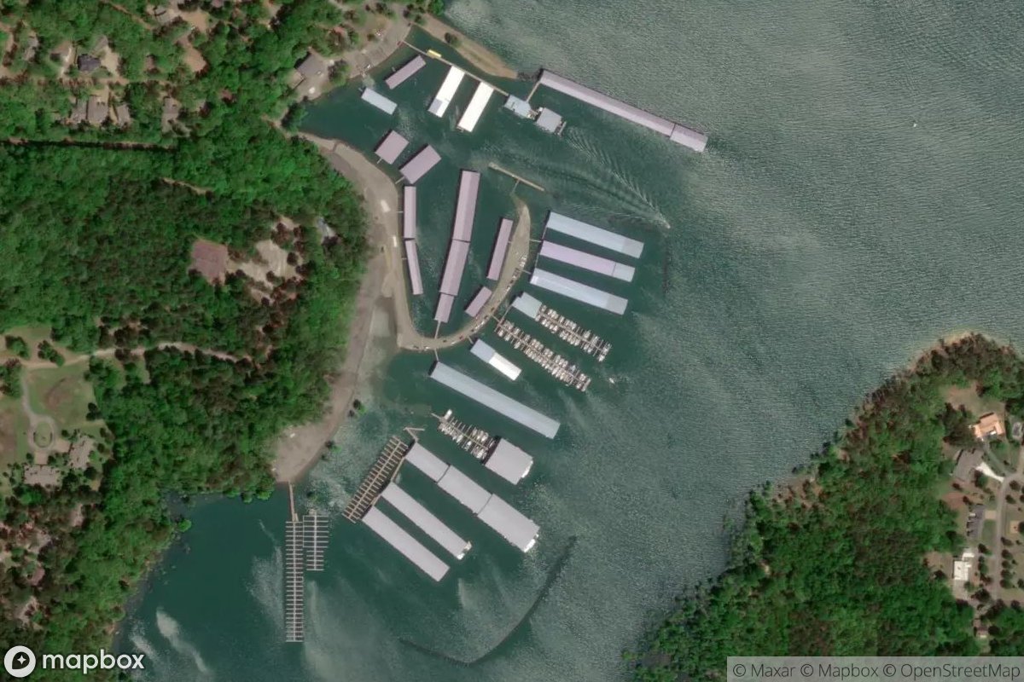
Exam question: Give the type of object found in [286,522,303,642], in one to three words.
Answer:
pier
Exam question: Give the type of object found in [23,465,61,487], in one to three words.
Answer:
house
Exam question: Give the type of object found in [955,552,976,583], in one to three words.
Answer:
building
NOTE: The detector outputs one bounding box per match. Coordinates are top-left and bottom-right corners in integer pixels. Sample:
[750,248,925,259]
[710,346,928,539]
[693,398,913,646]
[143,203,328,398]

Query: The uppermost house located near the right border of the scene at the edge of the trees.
[973,413,1006,438]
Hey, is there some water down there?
Yes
